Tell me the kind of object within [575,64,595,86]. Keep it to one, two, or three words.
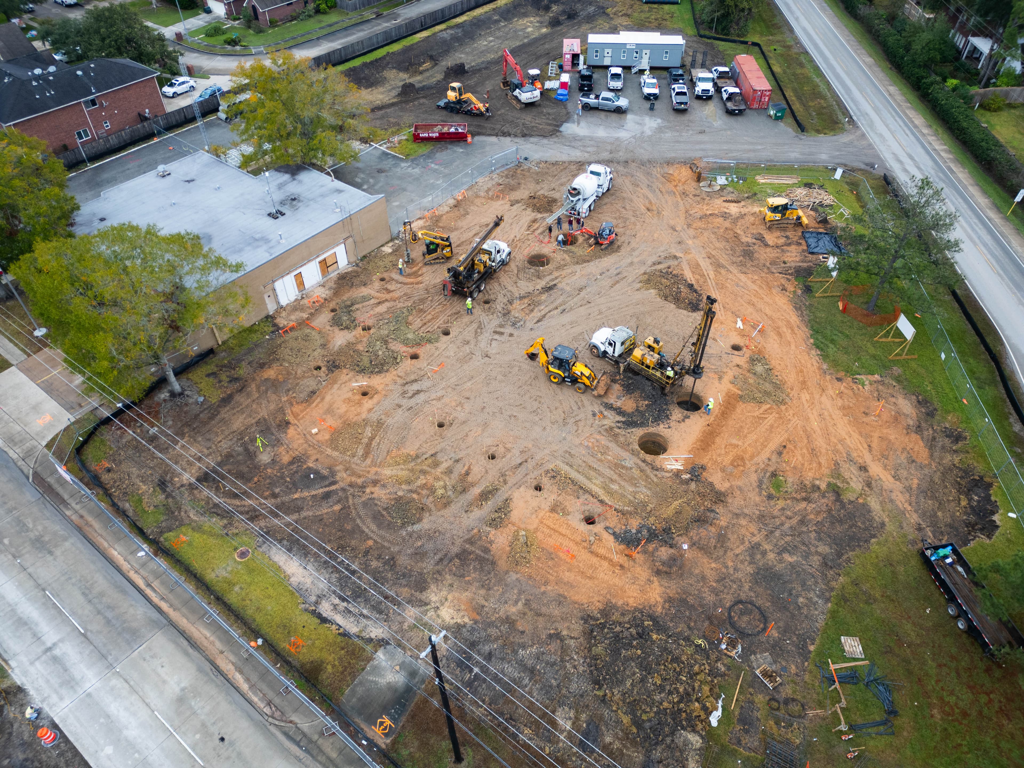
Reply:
vehicle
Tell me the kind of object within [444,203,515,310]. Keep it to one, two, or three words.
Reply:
truck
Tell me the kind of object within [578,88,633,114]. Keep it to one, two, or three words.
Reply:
truck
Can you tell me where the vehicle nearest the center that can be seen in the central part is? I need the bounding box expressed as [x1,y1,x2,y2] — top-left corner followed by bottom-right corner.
[522,330,620,403]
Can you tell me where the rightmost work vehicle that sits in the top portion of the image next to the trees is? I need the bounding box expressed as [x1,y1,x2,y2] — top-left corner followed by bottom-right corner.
[759,190,813,230]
